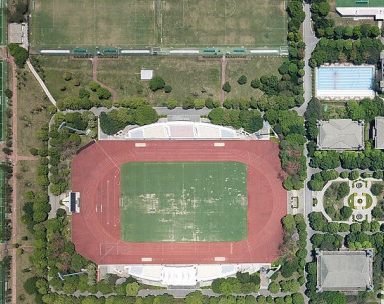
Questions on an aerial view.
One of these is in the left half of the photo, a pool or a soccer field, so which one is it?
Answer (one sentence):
Visible in the left half of the photo is a soccer field.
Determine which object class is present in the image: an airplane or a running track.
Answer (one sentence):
It is a running track that can be seen here.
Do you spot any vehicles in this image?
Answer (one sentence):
No, the photo shows no vehicle.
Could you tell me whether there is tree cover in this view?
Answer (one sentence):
Yes, there's tree cover in this view.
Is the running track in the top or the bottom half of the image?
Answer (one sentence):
Seen from above, the running track lies in the bottom half of the view.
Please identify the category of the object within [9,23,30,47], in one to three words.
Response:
building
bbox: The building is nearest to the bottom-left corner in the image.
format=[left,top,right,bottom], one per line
[63,192,83,213]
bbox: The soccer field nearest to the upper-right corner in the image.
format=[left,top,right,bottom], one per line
[156,0,288,48]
